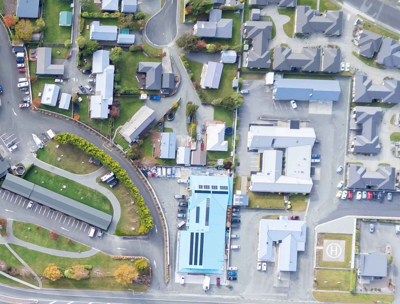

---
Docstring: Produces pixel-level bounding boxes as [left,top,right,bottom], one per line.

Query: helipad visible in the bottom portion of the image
[323,240,345,262]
